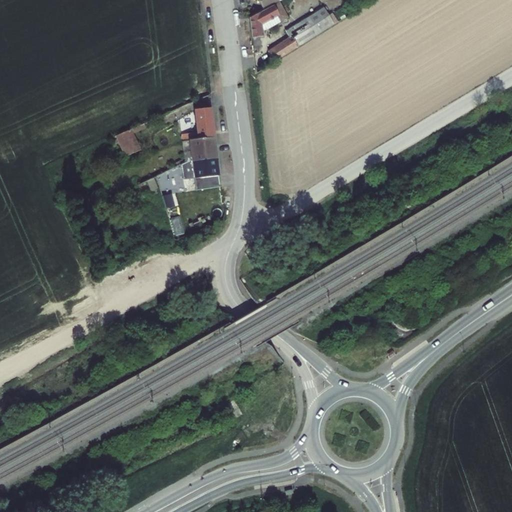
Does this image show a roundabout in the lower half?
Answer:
Yes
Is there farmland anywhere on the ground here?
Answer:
Yes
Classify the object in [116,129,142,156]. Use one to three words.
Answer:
barn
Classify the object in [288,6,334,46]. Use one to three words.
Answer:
building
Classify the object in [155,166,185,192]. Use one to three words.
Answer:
house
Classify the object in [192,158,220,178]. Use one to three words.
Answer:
house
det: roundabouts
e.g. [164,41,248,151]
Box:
[306,384,404,481]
